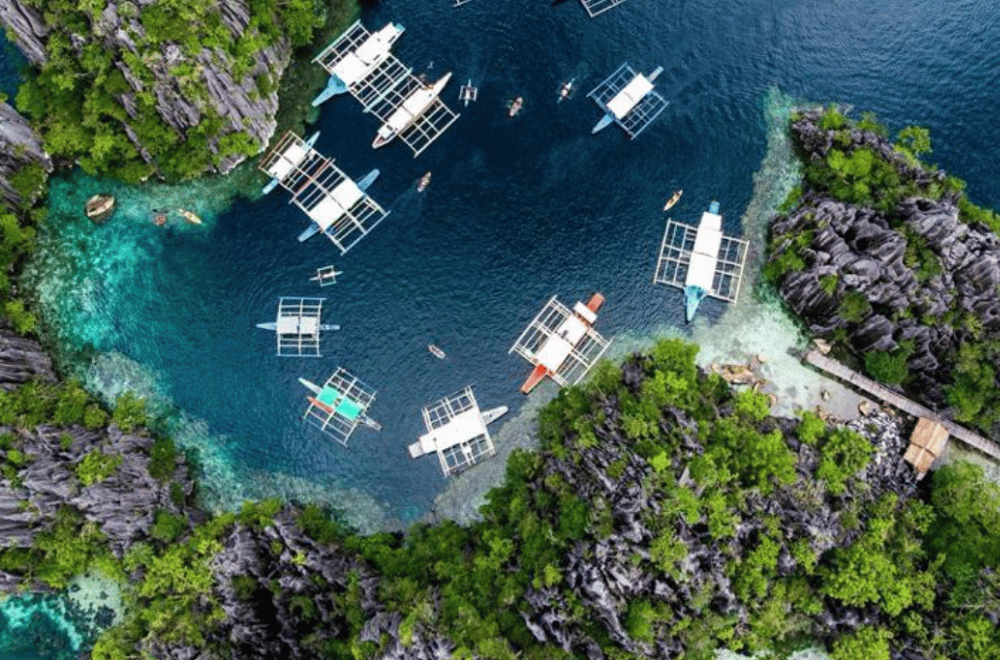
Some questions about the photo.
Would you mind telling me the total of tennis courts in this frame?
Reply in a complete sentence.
Not a single tennis court can be seen.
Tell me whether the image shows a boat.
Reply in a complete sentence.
Yes, a boat can be made out from above.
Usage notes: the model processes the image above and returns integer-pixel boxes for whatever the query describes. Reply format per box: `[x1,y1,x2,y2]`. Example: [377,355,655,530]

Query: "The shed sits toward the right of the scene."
[900,415,949,467]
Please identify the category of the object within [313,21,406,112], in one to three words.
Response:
boat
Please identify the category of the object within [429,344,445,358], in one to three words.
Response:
boat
